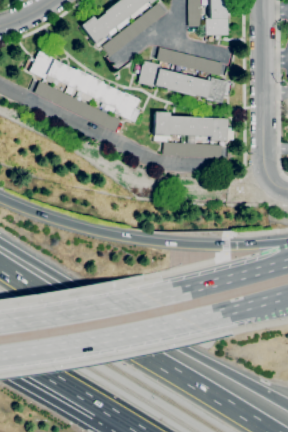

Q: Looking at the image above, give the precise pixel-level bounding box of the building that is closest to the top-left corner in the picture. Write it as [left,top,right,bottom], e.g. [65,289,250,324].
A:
[30,51,52,78]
